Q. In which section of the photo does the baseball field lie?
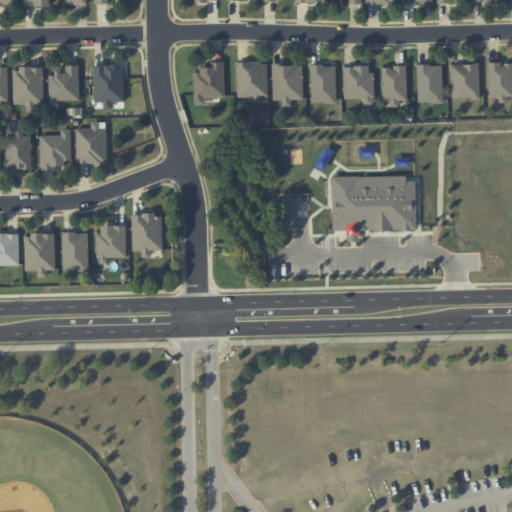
bottom left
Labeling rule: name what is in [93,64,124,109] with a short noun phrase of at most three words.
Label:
house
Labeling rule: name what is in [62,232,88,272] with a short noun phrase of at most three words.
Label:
house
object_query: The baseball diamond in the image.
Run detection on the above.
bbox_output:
[0,416,124,512]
